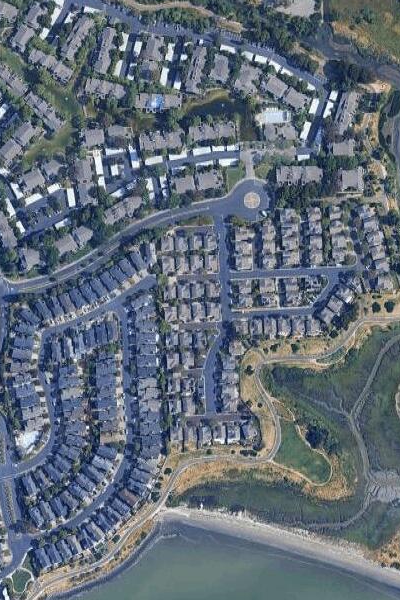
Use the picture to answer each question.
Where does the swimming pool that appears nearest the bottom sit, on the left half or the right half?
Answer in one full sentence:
The swimming pool that appears nearest the bottom is on the left side of the image.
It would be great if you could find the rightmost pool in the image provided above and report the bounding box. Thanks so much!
[255,107,290,124]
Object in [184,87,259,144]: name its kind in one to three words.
pond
